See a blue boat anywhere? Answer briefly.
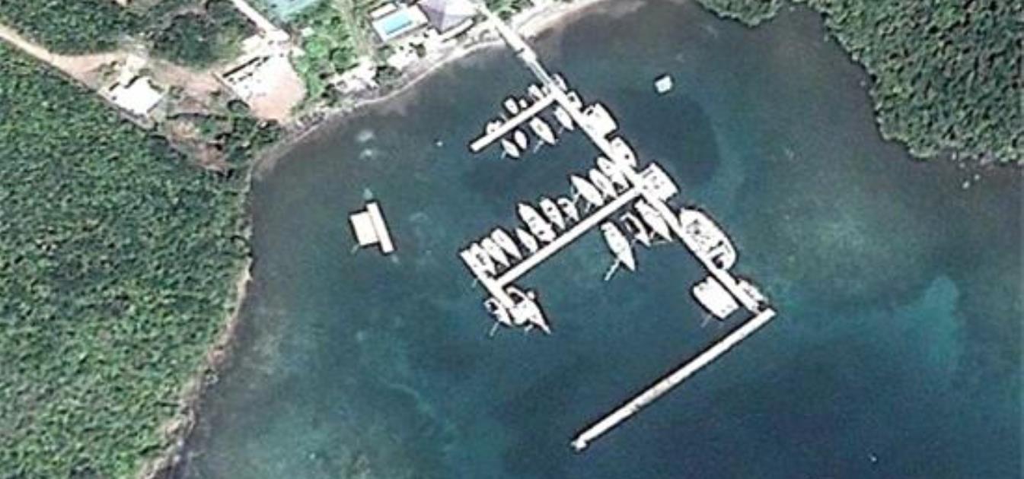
No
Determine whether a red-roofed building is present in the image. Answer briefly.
No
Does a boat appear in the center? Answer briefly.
Yes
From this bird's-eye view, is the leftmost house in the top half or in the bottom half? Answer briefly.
top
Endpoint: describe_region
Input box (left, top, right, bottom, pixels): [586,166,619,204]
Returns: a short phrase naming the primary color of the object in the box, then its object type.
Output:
white boat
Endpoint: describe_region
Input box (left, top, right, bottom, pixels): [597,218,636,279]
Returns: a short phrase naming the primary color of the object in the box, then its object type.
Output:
white boat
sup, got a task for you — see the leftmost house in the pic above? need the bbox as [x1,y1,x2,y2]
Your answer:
[109,76,163,112]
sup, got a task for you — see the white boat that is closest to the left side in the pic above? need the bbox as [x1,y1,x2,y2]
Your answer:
[350,209,378,245]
